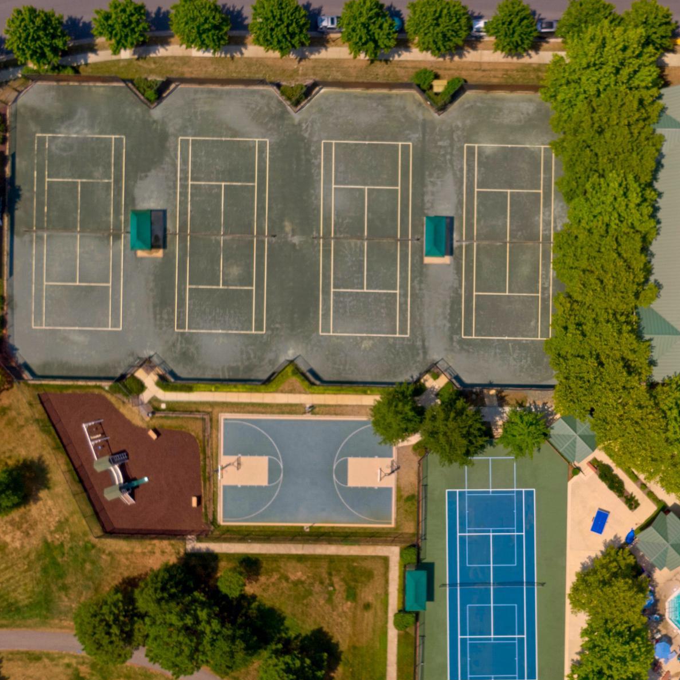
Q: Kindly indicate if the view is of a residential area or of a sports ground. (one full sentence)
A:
The picture captures a sports ground.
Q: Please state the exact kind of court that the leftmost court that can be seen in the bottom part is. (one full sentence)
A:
Looking closely, the leftmost court that can be seen in the bottom part is a basketball court.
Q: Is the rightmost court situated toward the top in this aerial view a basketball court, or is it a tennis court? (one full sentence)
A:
From above, the rightmost court situated toward the top can be identified as a tennis court.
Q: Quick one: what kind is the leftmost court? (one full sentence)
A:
What you see as the leftmost court is a tennis court.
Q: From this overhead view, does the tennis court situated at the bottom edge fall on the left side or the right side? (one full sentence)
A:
The tennis court situated at the bottom edge appears in the right half of the scene.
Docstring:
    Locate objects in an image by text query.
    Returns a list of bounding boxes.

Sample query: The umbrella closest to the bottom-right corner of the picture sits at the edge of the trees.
[654,641,671,658]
